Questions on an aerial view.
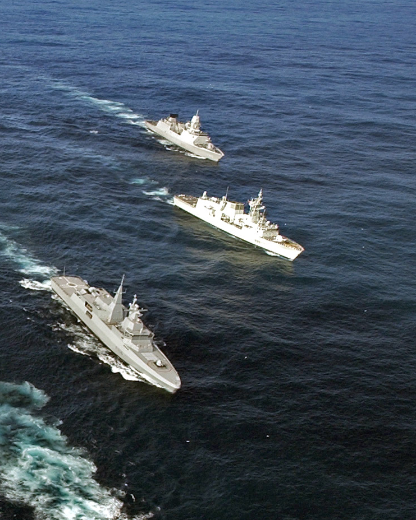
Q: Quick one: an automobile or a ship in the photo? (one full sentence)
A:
Of the two, only a ship appears.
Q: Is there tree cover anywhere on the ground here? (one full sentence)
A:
No, tree cover can't be seen anywhere here.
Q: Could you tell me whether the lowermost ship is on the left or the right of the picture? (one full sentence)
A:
The lowermost ship is on the left side of the image.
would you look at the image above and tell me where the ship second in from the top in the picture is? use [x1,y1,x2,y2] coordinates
[172,191,304,260]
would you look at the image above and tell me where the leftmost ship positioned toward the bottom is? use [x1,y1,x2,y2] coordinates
[51,270,183,395]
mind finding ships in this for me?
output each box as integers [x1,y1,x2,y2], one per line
[51,270,183,395]
[172,191,304,260]
[141,112,225,163]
